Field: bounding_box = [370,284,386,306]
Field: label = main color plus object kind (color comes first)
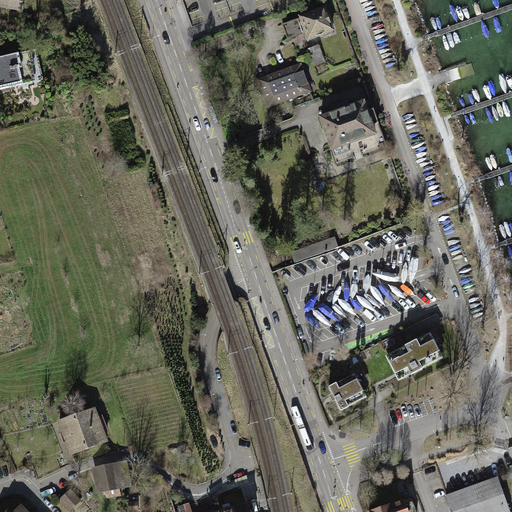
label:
white boat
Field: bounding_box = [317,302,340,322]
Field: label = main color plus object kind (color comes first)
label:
blue boat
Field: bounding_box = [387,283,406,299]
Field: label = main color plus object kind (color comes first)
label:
white boat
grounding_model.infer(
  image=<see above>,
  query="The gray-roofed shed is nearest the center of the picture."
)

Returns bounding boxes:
[292,236,338,262]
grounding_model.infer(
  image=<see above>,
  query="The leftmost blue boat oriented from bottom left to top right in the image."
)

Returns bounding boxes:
[304,293,320,312]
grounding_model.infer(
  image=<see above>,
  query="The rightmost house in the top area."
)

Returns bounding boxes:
[318,97,384,164]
